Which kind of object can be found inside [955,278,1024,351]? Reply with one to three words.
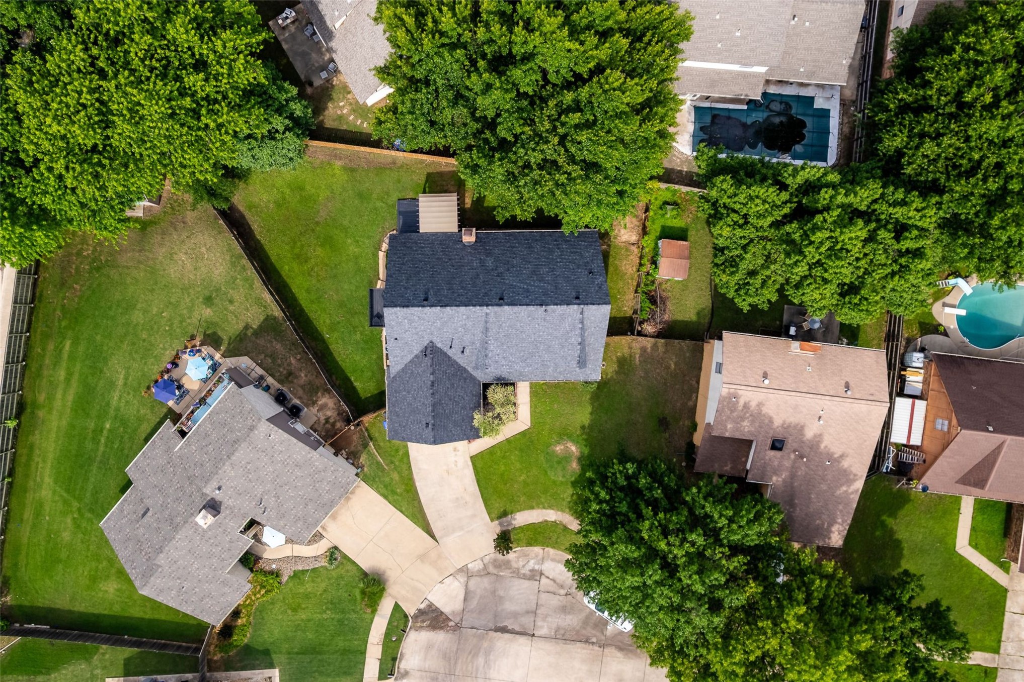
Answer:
swimming pool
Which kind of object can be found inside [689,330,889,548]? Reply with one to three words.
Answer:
house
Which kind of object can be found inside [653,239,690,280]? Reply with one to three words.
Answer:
shed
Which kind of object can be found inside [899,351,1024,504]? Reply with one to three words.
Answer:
house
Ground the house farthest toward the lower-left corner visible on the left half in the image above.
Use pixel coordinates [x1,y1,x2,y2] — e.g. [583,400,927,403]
[99,364,361,627]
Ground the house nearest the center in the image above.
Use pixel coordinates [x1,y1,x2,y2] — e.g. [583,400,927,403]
[370,228,610,445]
